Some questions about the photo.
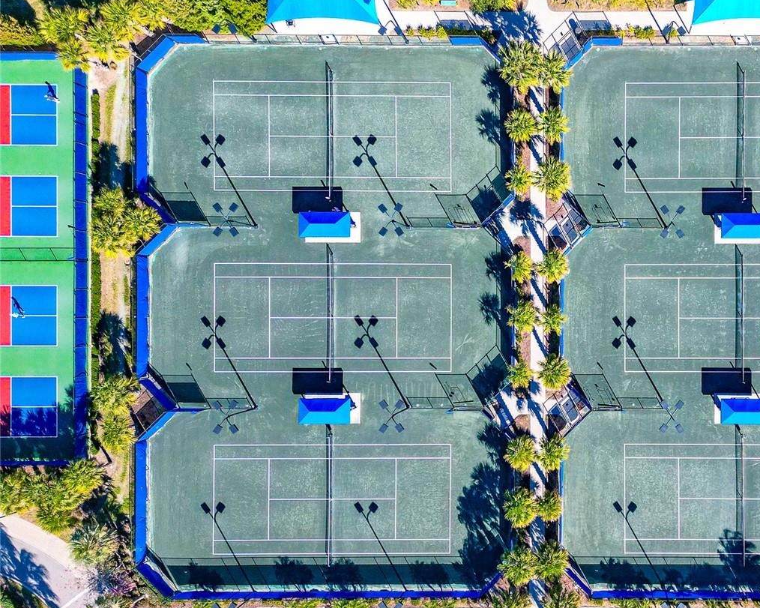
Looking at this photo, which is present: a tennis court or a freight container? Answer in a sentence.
Of the two, only a tennis court appears.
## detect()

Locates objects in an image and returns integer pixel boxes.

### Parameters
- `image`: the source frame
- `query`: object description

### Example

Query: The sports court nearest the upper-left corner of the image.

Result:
[0,84,57,145]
